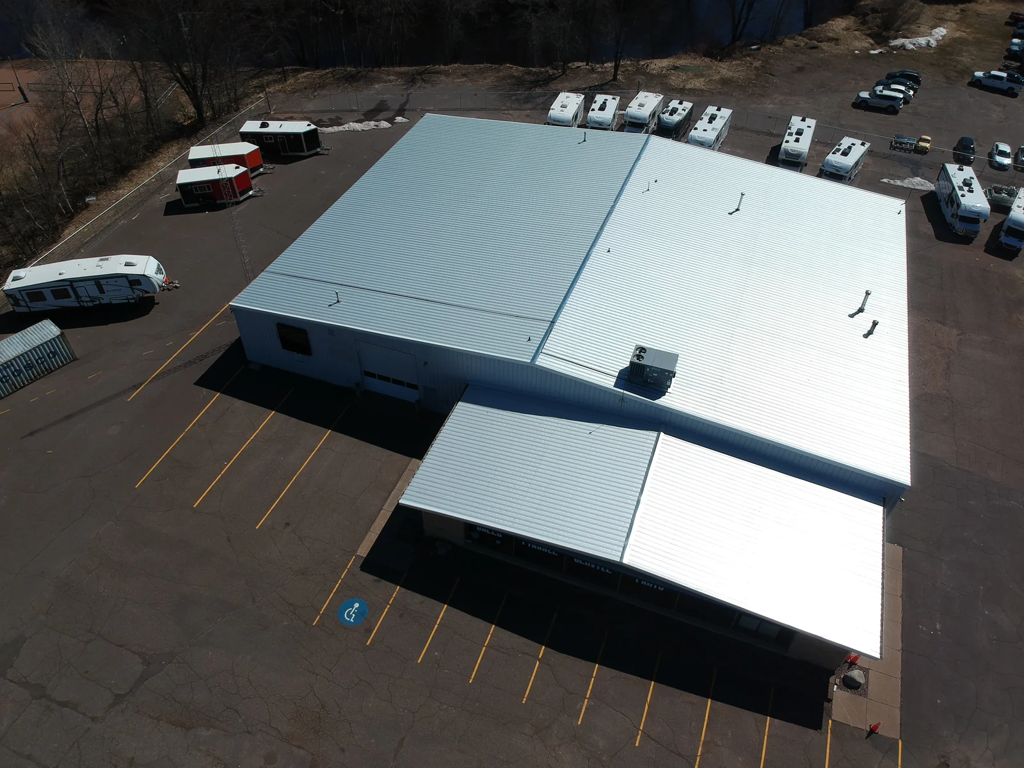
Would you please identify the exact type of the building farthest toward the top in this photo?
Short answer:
warehouse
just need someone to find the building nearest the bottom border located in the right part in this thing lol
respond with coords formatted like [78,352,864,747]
[396,381,885,669]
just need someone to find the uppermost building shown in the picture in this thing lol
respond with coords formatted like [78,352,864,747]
[228,113,916,522]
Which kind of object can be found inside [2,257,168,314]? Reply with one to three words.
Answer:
vehicle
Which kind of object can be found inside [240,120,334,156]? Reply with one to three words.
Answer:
trailer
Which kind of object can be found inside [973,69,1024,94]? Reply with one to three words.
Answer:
truck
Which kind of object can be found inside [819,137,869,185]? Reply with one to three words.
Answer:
camper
